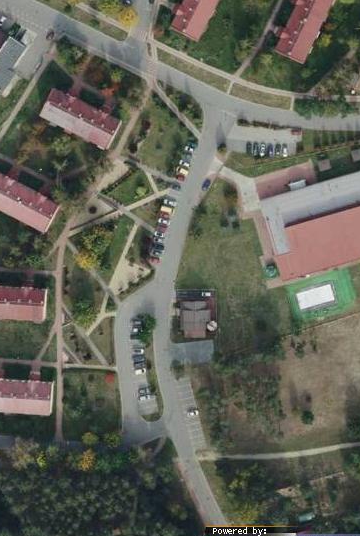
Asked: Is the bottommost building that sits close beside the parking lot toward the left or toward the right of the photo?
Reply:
right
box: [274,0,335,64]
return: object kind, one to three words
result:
building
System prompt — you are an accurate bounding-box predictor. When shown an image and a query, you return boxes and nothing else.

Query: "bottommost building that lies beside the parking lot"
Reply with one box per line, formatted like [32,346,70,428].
[261,171,360,281]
